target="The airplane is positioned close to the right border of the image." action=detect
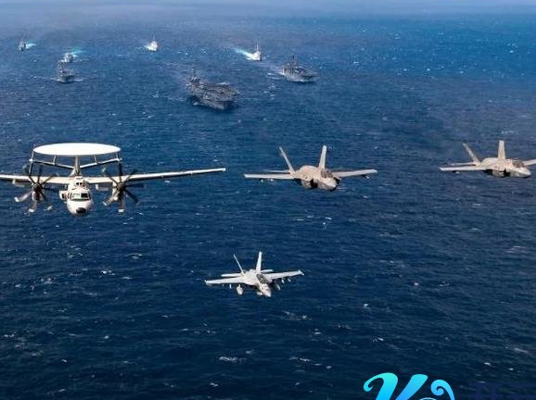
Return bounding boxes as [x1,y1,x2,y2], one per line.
[434,140,536,183]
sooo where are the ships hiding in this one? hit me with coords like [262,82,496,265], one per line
[64,47,73,62]
[57,55,73,82]
[278,55,321,82]
[146,38,156,49]
[185,69,237,111]
[245,48,261,60]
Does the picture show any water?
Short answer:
Yes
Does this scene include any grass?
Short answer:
No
